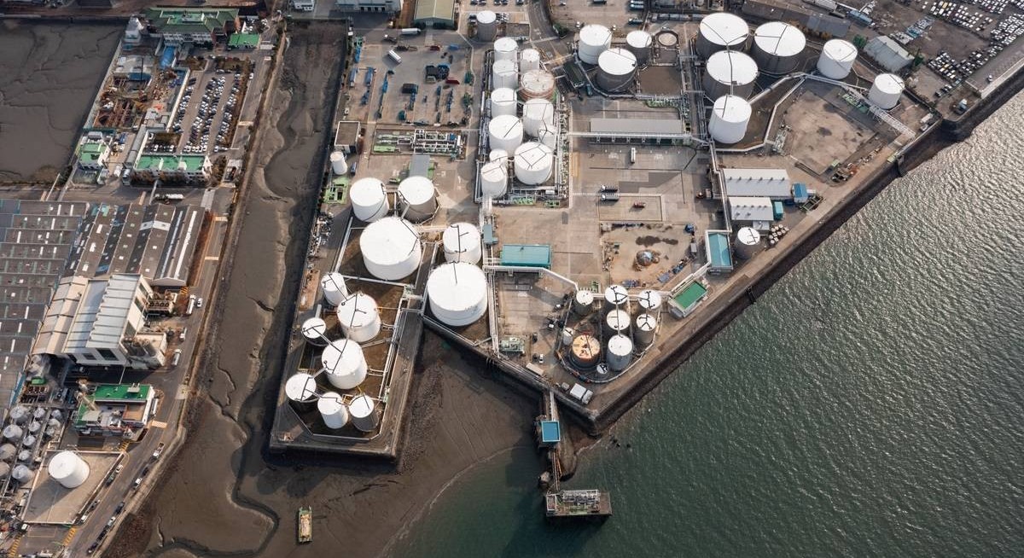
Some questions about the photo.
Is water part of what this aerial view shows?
Yes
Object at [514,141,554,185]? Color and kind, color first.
white storage tank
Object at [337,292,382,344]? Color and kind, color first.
white storage tank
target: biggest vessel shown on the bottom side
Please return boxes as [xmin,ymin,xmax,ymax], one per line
[296,502,312,544]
